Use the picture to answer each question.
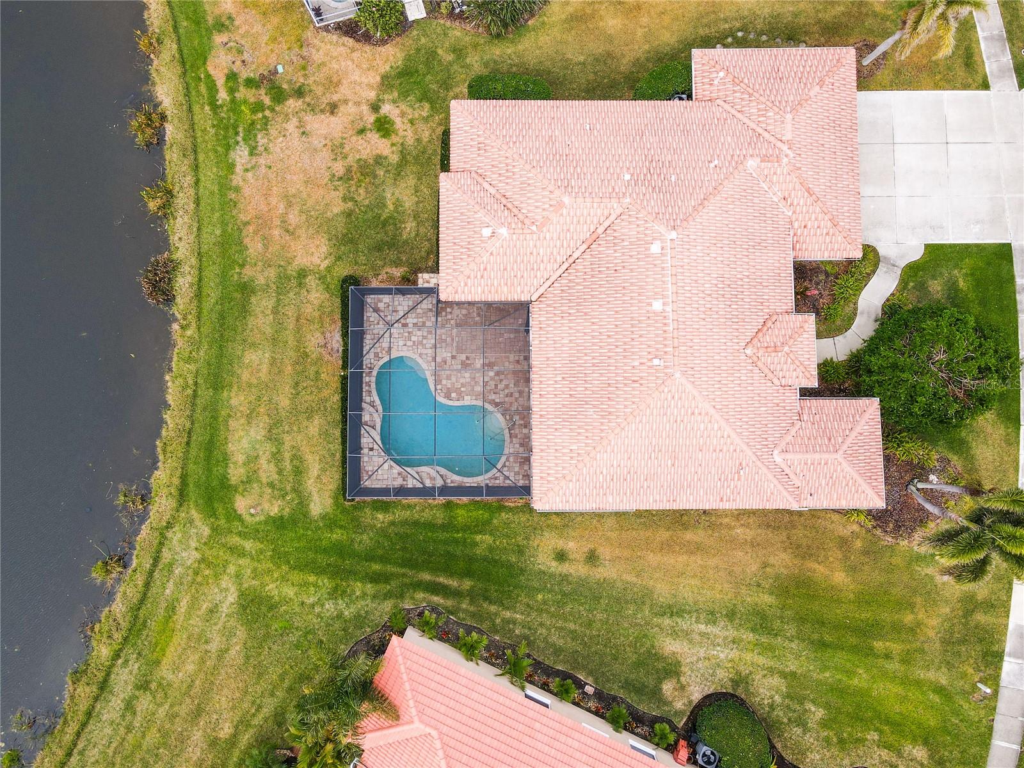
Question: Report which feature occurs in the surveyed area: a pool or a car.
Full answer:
Of the two, only a pool appears.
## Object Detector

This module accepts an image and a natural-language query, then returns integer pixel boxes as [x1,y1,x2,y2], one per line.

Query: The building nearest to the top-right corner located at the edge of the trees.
[438,45,887,513]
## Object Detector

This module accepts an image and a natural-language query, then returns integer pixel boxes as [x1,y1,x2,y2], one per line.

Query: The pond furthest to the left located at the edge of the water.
[0,0,178,768]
